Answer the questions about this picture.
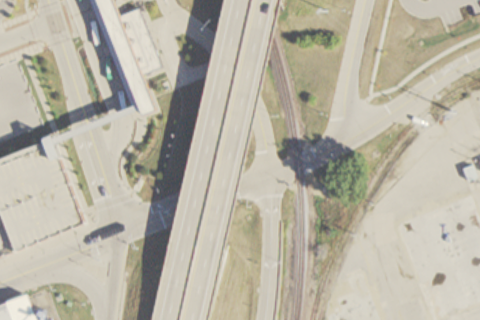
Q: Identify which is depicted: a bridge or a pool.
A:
bridge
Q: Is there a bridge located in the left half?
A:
Yes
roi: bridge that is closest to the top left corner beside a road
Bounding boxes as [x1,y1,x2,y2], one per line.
[54,107,138,144]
